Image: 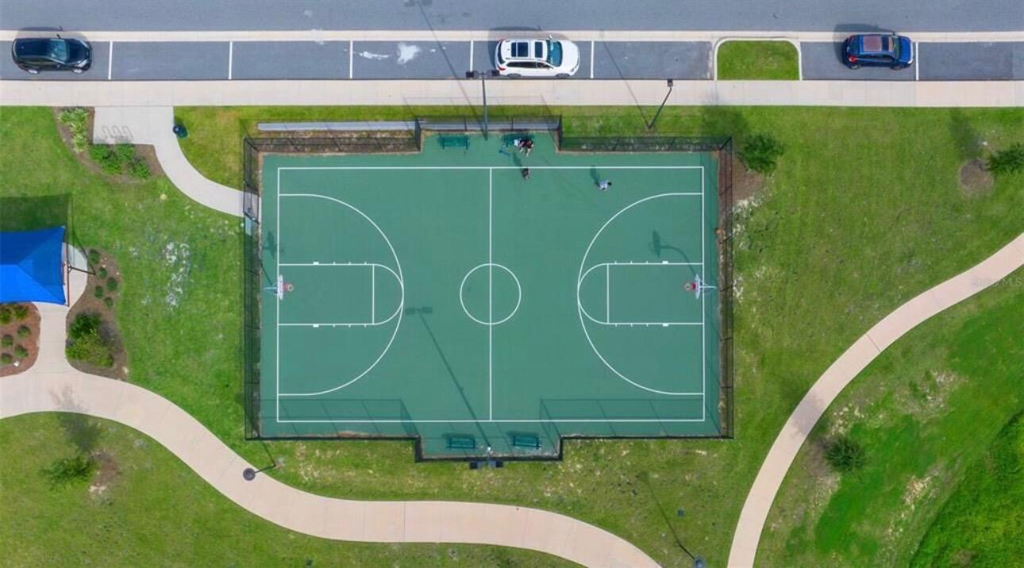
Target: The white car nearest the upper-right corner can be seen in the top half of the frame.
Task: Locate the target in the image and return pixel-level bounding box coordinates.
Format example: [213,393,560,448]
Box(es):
[494,35,581,77]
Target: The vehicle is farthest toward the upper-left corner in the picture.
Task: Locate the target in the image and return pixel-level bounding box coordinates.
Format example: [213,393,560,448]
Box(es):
[10,34,91,73]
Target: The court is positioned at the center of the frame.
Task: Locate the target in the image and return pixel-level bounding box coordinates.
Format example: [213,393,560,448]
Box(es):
[259,131,720,457]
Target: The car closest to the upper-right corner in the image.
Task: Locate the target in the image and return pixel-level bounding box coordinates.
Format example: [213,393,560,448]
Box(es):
[842,31,916,70]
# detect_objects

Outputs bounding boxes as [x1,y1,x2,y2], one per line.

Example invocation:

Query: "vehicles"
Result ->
[10,34,91,73]
[842,31,916,70]
[494,35,581,77]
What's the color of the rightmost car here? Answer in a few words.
blue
